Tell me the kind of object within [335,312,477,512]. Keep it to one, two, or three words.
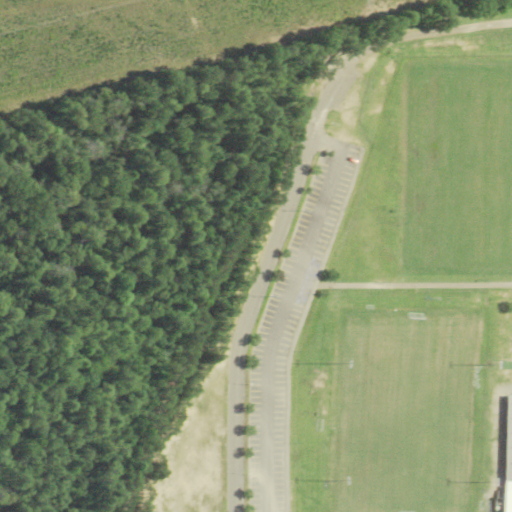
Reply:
soccer field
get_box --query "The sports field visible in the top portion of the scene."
[403,54,512,276]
